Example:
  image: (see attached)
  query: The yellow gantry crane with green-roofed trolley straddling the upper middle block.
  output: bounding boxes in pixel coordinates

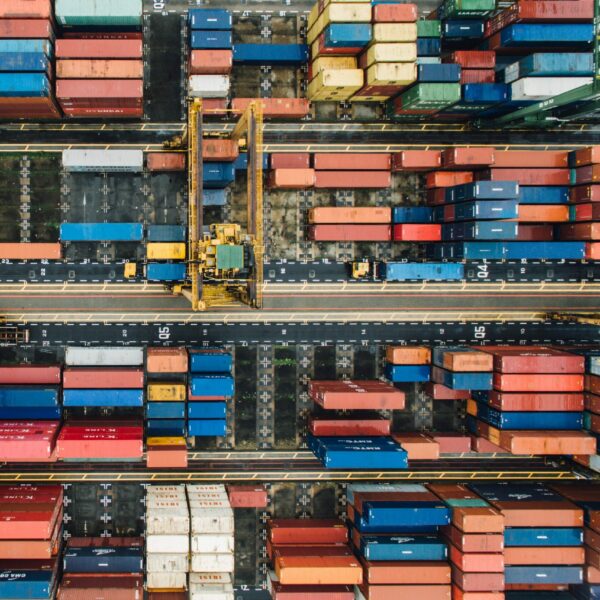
[169,95,264,313]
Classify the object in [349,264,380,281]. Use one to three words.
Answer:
vehicle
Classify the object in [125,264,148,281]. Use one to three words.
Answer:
vehicle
